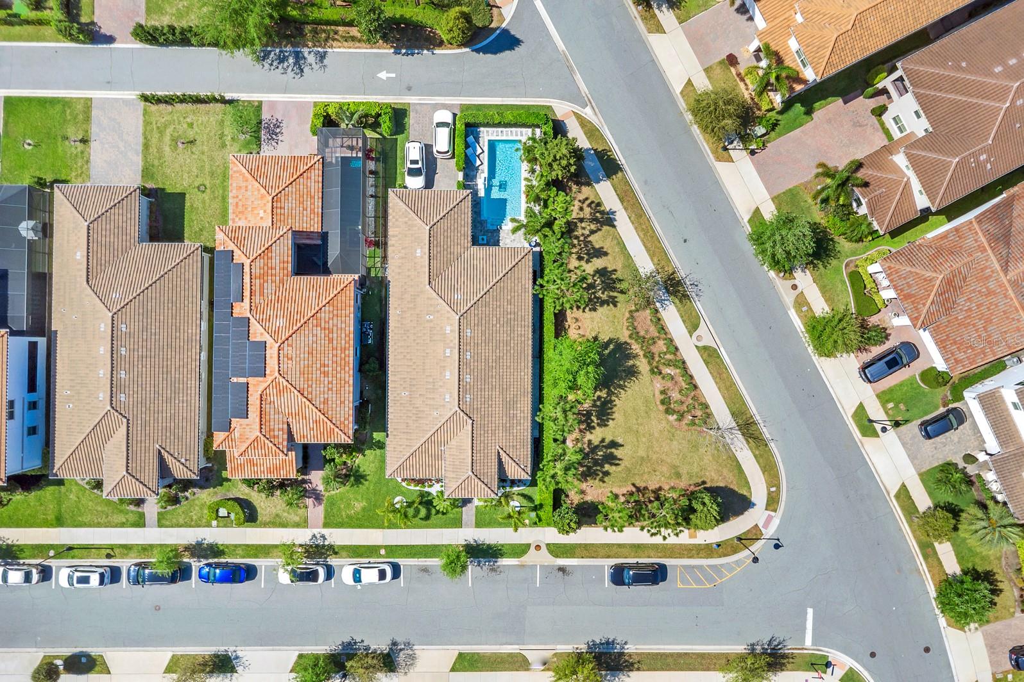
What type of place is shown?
residential area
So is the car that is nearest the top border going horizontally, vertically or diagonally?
vertically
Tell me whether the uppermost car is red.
No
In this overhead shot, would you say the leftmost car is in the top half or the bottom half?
bottom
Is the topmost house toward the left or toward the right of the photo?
right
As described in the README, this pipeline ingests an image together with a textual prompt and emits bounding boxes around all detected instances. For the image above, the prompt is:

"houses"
[386,188,534,499]
[740,0,976,100]
[962,355,1024,517]
[0,329,47,484]
[861,185,1024,377]
[51,183,210,499]
[850,0,1024,233]
[212,153,363,478]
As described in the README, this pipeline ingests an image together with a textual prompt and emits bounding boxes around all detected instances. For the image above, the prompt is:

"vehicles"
[341,561,392,586]
[0,561,40,586]
[431,109,456,160]
[196,562,244,587]
[126,563,179,588]
[56,562,107,587]
[403,140,428,189]
[276,561,326,586]
[916,408,965,440]
[860,345,916,383]
[609,562,659,587]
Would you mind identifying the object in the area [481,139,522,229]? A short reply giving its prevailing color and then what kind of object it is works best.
blue swimming pool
